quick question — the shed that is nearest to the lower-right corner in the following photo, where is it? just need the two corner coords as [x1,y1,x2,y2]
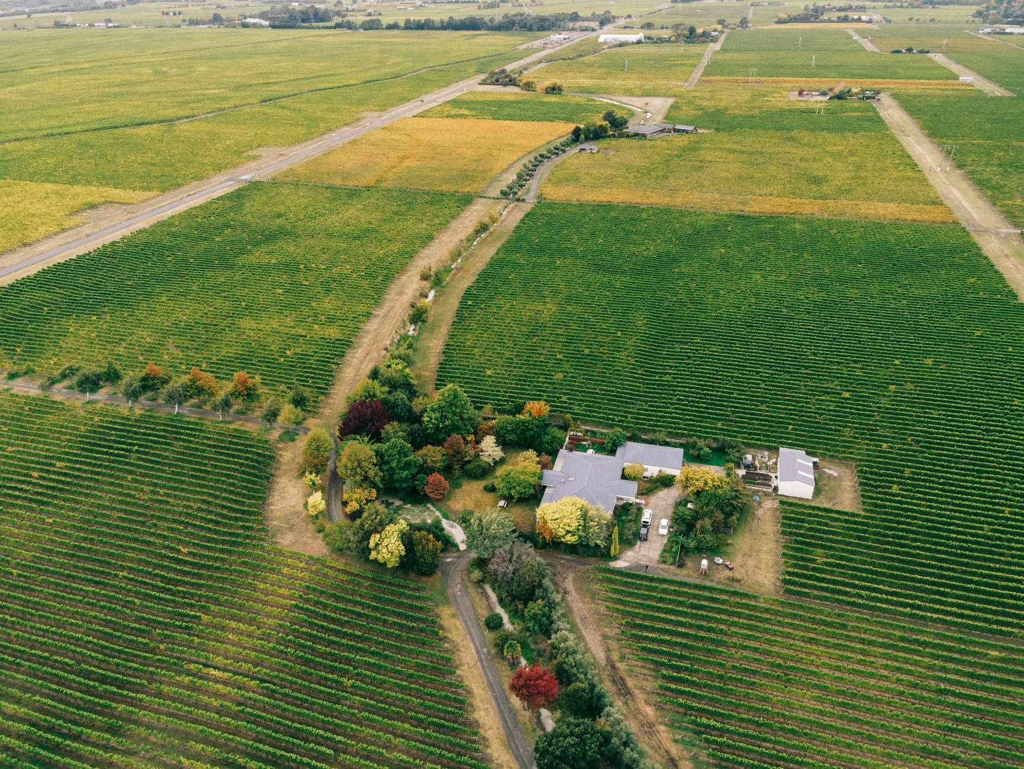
[778,444,816,498]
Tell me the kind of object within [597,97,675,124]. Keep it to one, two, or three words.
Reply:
building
